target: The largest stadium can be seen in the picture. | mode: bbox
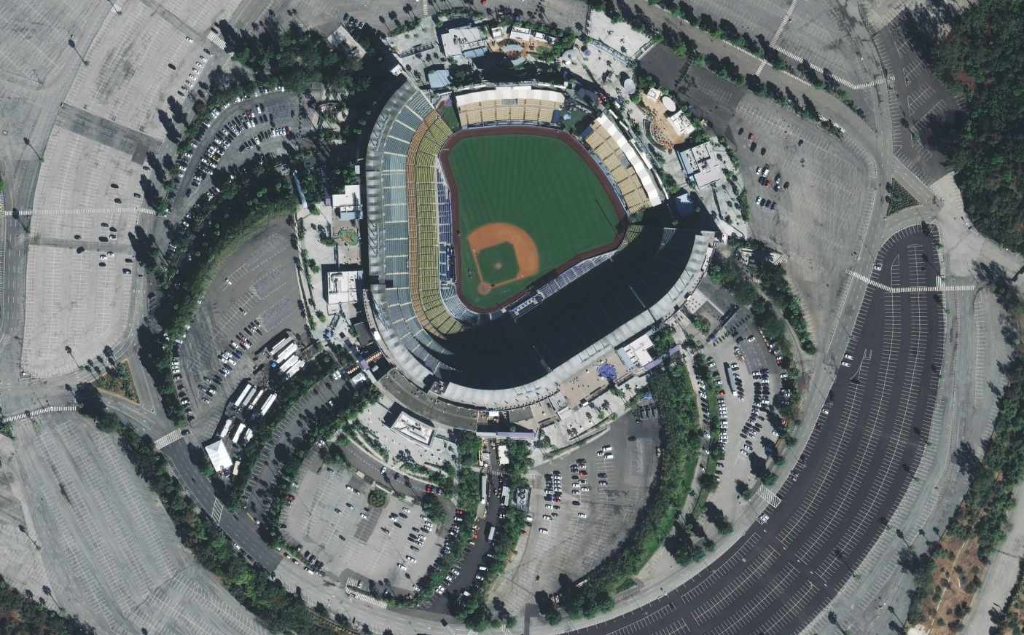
[364,64,729,410]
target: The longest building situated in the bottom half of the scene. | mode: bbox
[379,370,477,429]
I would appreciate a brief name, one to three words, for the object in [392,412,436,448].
building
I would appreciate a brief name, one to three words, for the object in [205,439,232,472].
tent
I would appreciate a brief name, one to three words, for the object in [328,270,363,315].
building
